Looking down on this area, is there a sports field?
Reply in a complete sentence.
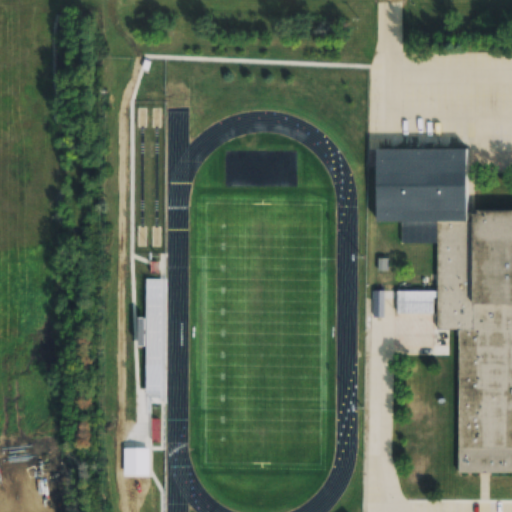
Yes, a sports field can be made out from above.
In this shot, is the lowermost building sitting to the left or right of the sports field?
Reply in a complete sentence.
It is on the left side of the sports field that the lowermost building is positioned.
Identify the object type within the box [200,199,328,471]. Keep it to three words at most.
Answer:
sports field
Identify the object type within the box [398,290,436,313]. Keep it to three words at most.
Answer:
shed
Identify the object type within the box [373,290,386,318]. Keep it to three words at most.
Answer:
shed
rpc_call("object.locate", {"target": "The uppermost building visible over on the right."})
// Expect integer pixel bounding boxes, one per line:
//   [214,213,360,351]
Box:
[375,149,470,244]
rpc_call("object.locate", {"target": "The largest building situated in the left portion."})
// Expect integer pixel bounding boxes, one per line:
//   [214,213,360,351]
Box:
[124,448,150,476]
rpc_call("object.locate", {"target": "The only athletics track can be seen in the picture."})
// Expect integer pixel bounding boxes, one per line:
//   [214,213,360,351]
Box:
[168,110,358,512]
